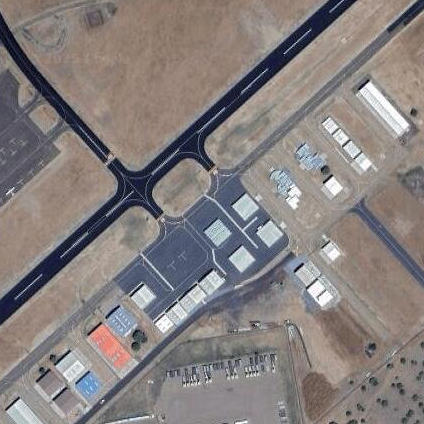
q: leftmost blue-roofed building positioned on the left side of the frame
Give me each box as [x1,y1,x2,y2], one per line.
[76,371,102,398]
